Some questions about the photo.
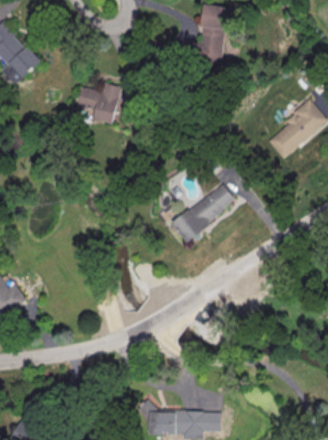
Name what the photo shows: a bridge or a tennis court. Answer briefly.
bridge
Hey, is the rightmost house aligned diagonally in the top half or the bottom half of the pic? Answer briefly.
top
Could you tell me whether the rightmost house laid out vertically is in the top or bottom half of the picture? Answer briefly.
top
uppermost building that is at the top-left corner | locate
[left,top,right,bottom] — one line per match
[0,22,38,82]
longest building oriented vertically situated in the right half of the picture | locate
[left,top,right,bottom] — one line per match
[201,4,225,60]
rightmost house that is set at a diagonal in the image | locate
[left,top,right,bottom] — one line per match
[270,100,328,158]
